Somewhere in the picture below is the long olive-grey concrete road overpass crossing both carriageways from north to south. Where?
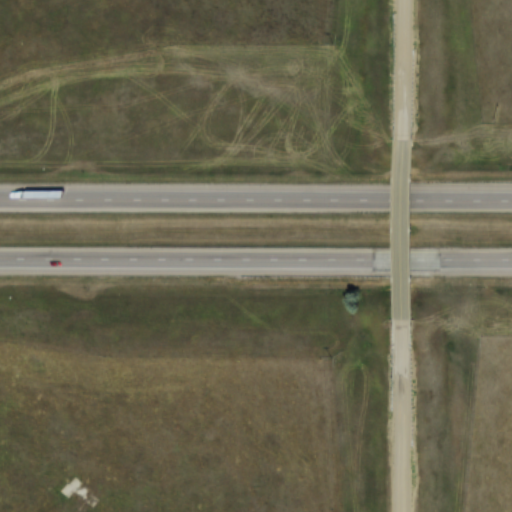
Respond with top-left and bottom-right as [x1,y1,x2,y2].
[390,139,412,324]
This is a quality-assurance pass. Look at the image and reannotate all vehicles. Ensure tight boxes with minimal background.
[10,192,62,200]
[50,260,61,265]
